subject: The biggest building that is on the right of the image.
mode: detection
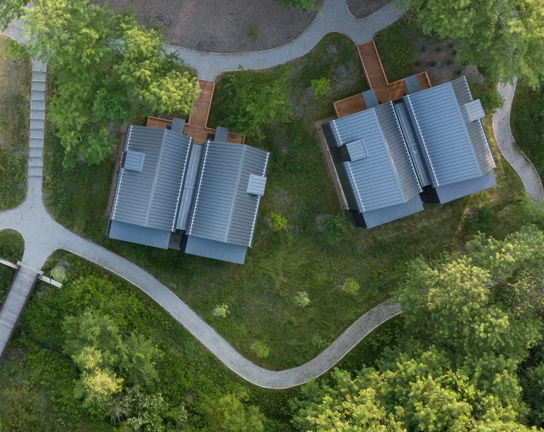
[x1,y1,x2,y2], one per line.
[316,74,498,228]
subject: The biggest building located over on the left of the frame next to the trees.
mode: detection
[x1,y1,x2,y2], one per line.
[107,118,270,262]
